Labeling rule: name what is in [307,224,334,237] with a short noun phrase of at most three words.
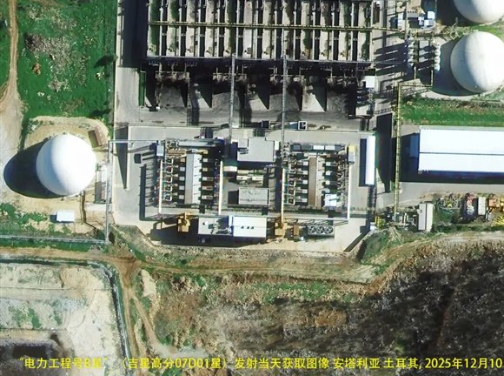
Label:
cooling tower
